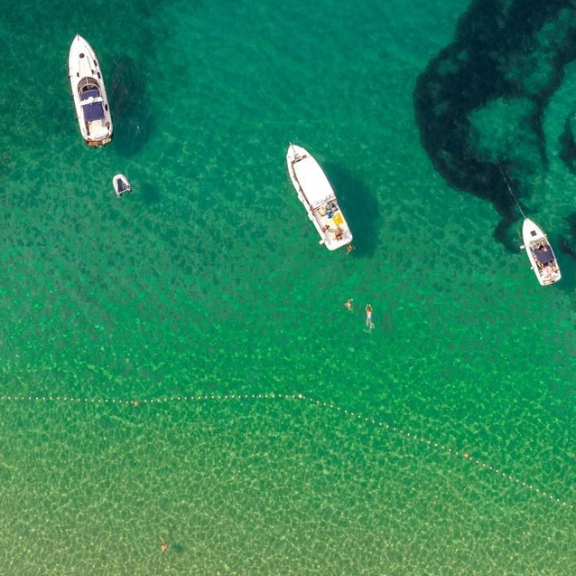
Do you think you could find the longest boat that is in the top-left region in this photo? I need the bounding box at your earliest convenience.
[69,33,112,146]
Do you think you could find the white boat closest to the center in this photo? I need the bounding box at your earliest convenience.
[289,140,350,250]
